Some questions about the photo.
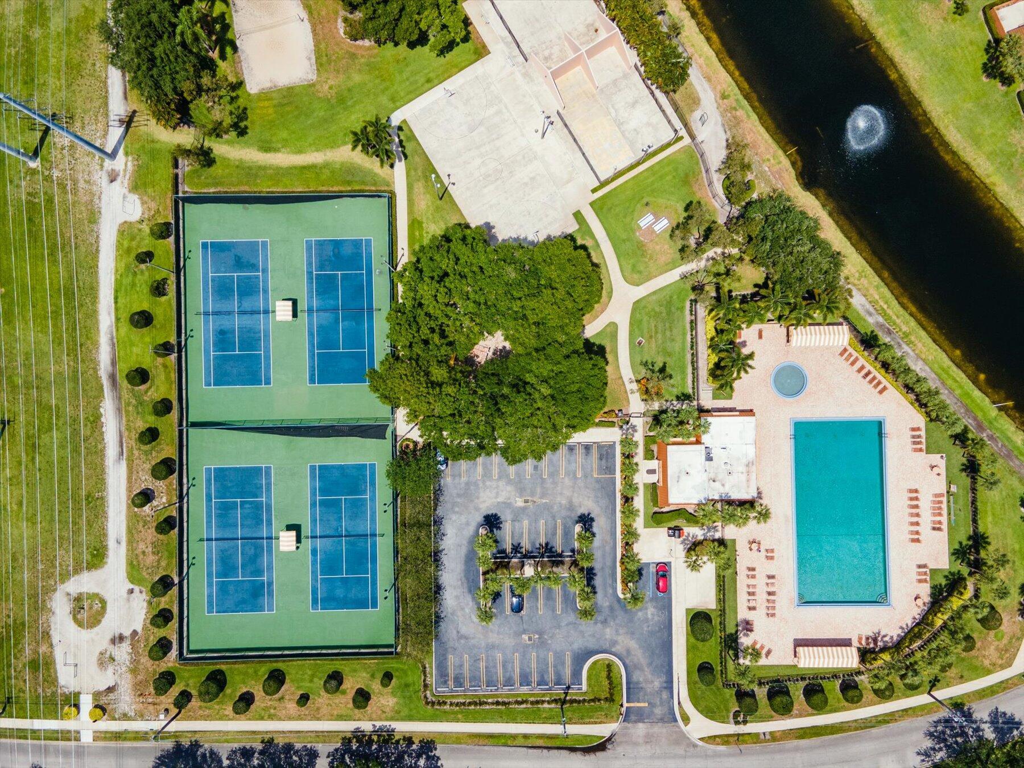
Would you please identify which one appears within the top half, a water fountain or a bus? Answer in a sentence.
Visible within the top half is a water fountain.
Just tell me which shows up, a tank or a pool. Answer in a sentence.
There is a pool in the scene.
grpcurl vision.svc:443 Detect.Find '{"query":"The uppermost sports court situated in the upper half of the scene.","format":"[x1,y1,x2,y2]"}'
[231,0,316,92]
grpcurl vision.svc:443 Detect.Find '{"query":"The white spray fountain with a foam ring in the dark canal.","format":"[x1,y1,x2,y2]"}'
[848,107,890,149]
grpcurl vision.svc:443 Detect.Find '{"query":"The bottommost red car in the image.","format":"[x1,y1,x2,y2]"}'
[657,563,669,595]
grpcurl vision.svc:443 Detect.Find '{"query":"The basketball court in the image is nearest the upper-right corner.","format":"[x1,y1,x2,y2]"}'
[405,0,690,268]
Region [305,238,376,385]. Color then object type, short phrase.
blue tennis court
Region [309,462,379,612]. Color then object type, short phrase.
blue tennis court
